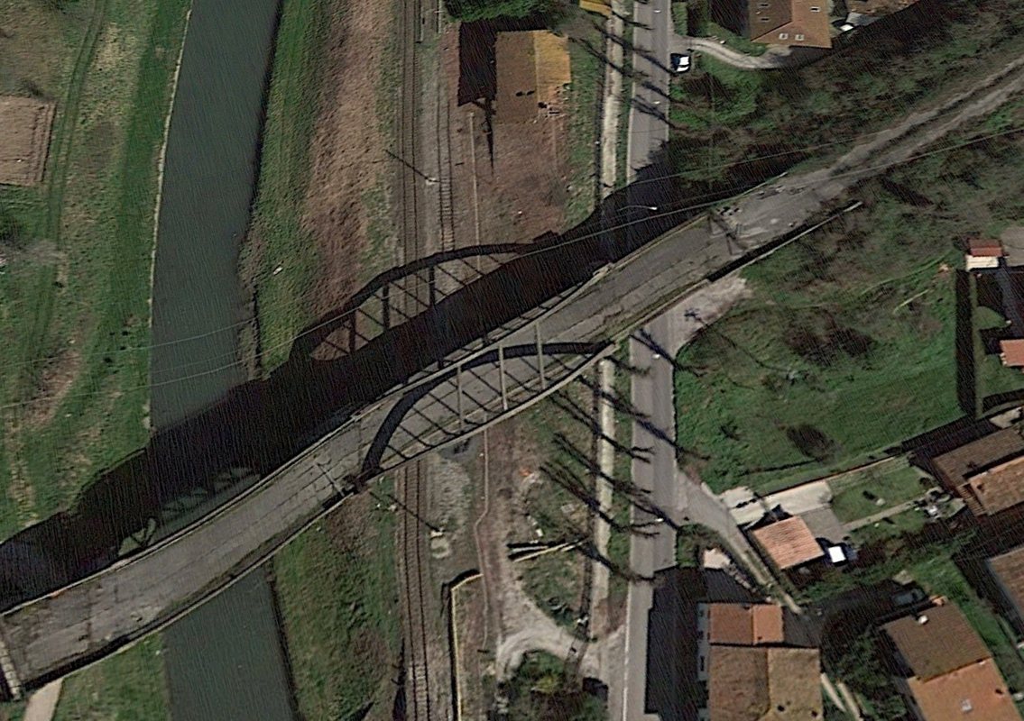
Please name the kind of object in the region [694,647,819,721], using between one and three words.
house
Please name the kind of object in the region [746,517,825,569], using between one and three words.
building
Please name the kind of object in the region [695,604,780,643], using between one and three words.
house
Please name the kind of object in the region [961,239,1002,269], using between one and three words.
shed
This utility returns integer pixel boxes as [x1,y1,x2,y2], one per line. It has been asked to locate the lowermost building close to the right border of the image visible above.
[867,599,1024,721]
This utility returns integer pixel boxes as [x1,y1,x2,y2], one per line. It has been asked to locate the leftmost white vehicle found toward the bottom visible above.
[822,544,851,564]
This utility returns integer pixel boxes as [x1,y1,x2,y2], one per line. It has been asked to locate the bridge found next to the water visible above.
[0,213,717,710]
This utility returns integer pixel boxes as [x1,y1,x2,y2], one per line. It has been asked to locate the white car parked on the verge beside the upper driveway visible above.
[676,51,693,74]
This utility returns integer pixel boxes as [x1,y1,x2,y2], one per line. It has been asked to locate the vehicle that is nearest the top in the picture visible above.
[832,17,859,34]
